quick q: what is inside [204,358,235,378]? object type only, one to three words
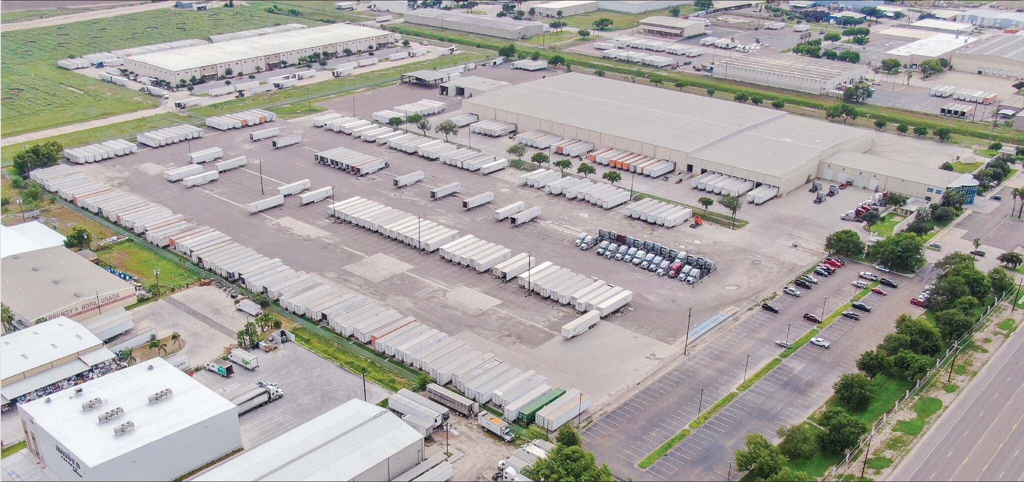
vehicle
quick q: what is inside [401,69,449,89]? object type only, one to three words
shed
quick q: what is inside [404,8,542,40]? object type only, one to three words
building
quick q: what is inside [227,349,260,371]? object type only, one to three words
truck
